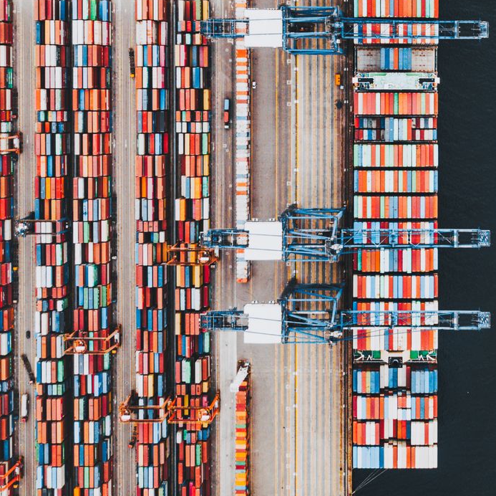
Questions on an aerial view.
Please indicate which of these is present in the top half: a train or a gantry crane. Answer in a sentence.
It is a gantry crane that can be seen in the top half.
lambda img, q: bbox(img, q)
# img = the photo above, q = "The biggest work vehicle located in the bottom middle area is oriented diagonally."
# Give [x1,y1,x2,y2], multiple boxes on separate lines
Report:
[231,361,253,391]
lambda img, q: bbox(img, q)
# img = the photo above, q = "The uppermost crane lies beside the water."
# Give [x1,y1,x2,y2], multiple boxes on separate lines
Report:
[204,3,490,60]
